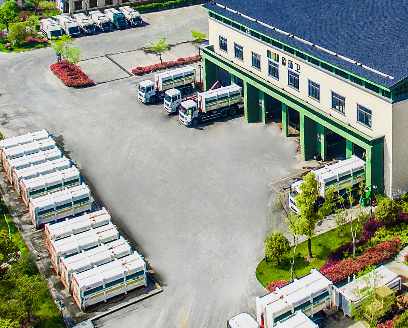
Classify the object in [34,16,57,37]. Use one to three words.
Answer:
truck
